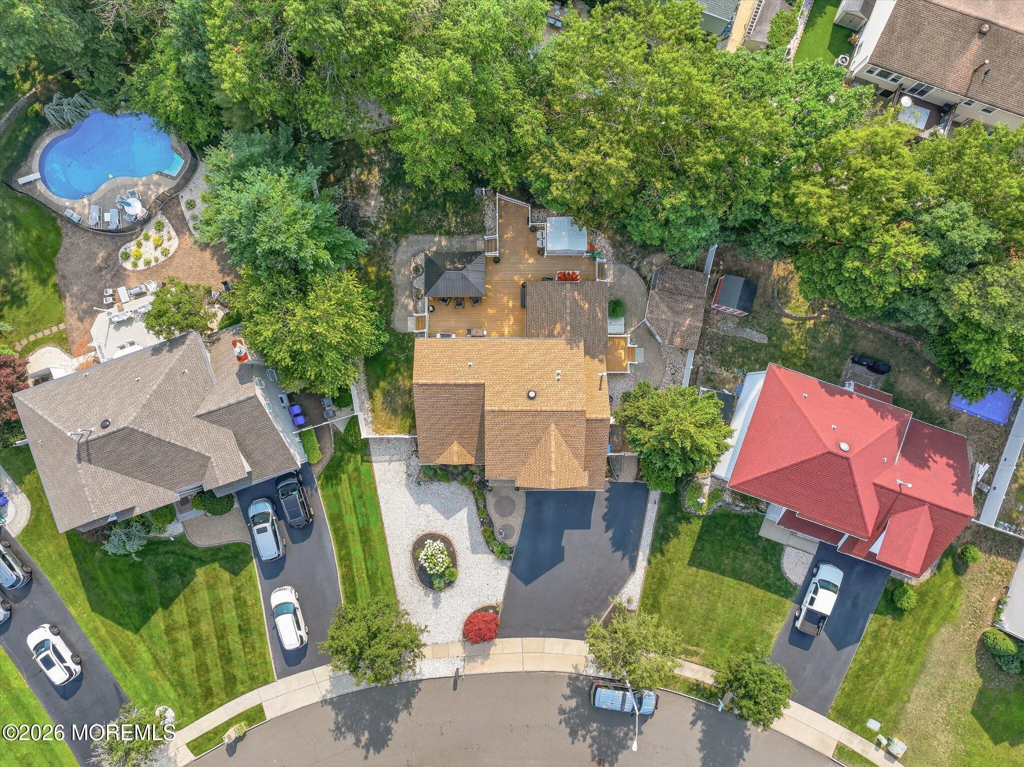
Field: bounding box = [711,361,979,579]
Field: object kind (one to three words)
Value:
house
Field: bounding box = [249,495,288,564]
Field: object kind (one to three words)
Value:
car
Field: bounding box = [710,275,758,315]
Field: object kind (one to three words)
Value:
shed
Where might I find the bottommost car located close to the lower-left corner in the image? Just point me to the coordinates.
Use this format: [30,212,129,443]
[32,619,83,688]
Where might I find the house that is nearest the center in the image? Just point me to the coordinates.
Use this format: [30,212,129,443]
[413,270,612,491]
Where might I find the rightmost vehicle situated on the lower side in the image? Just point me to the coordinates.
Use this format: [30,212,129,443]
[794,560,843,641]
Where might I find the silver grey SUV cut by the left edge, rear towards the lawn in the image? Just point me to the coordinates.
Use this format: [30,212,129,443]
[0,534,30,598]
